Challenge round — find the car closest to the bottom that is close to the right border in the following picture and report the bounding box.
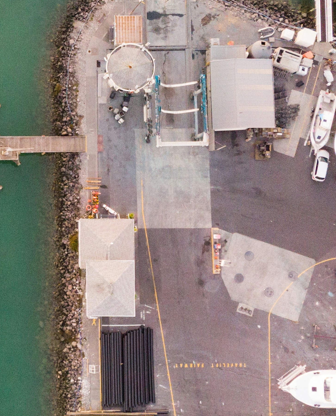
[309,150,331,183]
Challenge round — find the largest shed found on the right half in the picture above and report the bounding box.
[174,59,275,132]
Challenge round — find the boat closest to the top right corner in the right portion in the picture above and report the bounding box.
[259,26,276,38]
